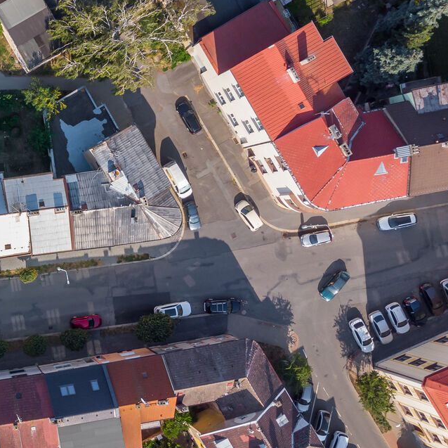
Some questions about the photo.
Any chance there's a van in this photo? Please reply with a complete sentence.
Yes, there is a van in the image.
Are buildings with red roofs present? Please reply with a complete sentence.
Yes, looking at the shot, I can spot a building with a red roof.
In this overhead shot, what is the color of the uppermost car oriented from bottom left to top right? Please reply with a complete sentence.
From above, the uppermost car oriented from bottom left to top right appears blue.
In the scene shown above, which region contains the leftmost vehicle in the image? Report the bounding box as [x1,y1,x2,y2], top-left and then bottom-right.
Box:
[69,313,101,328]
